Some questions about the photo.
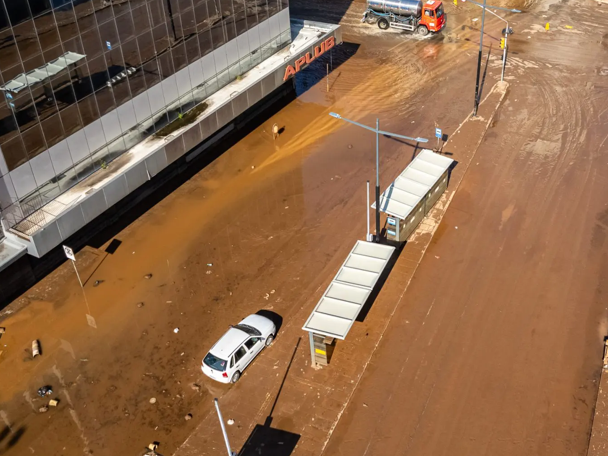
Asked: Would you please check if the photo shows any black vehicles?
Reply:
No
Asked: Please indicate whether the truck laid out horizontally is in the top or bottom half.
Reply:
top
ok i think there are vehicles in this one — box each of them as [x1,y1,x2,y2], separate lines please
[193,314,277,390]
[357,0,447,36]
